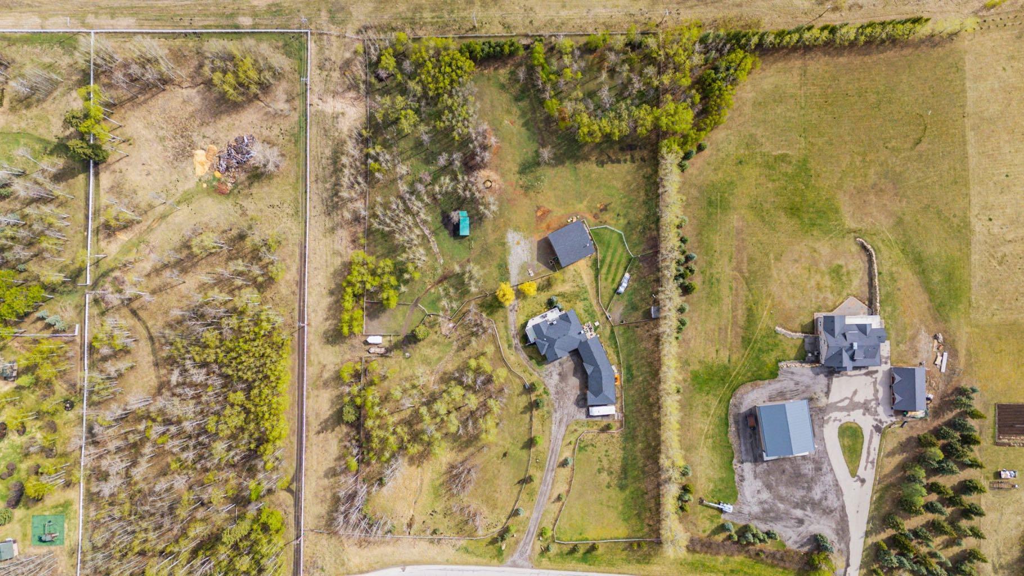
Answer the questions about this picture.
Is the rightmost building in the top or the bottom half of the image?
bottom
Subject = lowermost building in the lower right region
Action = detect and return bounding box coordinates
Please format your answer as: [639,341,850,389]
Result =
[754,399,816,461]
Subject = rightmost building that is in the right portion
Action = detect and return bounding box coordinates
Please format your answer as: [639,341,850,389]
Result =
[887,366,926,411]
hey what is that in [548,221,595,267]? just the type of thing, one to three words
building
